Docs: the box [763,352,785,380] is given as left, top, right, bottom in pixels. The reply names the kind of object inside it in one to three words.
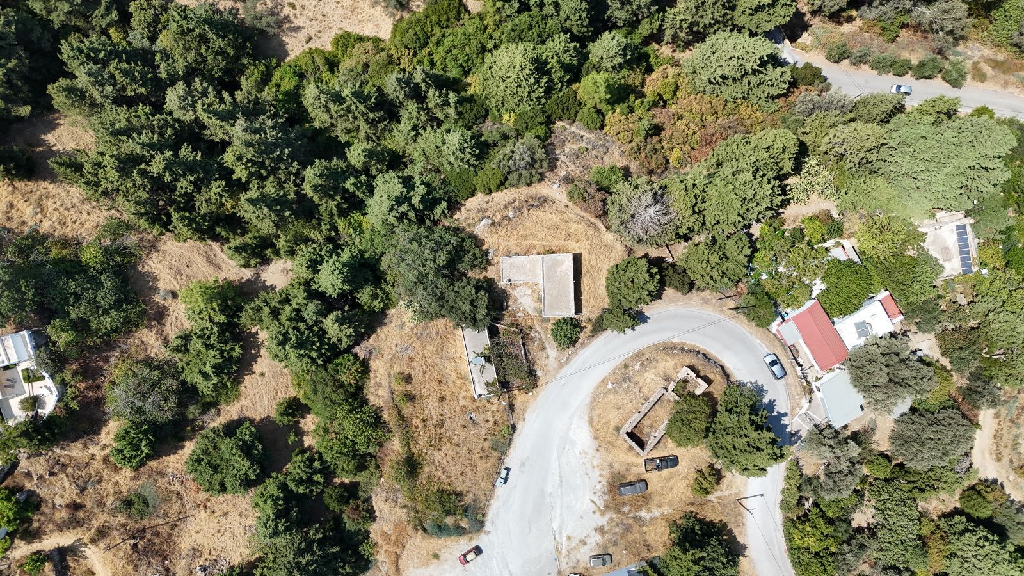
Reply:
car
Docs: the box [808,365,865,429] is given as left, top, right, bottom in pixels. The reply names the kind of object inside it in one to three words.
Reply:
house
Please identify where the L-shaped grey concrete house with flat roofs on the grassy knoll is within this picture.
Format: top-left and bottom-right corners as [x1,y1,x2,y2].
[501,253,574,317]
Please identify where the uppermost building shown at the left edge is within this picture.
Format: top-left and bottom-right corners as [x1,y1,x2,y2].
[0,329,48,369]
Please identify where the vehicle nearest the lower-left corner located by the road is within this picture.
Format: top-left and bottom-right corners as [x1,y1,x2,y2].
[458,543,484,565]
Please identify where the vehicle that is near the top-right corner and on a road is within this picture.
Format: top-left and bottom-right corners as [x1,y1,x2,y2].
[887,83,912,96]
